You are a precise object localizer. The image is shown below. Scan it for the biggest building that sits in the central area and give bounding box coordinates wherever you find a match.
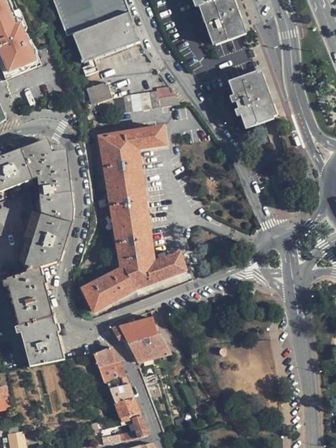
[82,124,188,312]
